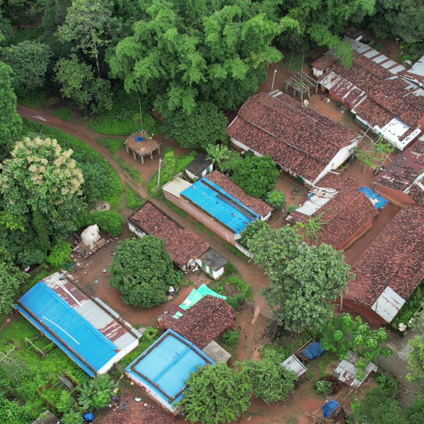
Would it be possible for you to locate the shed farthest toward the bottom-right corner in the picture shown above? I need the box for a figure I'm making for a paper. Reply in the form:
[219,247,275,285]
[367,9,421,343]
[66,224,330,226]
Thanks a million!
[334,357,375,393]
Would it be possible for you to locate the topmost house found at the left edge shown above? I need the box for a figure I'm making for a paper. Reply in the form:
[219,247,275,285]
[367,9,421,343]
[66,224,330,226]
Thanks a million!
[15,270,142,380]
